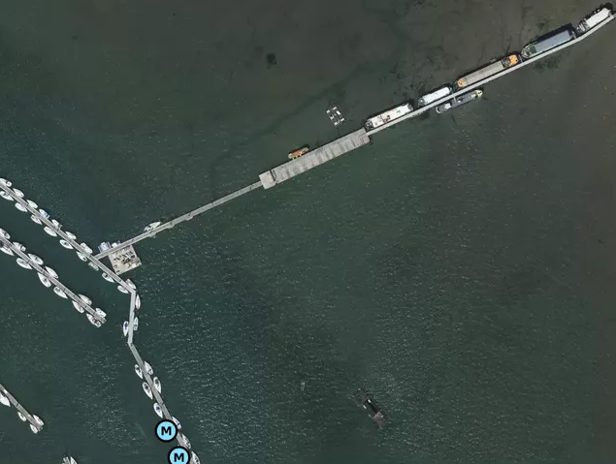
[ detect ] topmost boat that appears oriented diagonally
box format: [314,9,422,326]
[576,5,614,33]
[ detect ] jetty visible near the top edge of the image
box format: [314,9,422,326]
[366,14,616,136]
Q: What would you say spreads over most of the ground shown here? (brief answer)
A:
water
